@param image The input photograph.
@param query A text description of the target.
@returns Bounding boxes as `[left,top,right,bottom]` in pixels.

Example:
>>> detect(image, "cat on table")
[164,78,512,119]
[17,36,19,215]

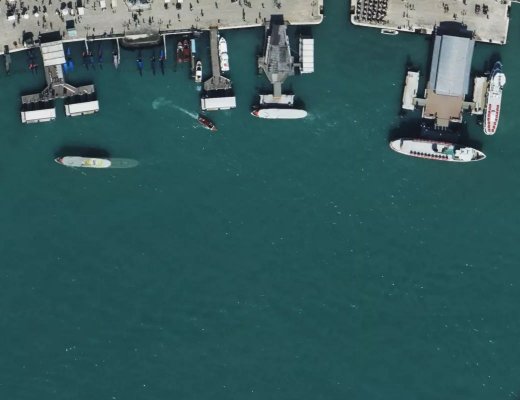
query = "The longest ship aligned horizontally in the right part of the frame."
[388,138,485,162]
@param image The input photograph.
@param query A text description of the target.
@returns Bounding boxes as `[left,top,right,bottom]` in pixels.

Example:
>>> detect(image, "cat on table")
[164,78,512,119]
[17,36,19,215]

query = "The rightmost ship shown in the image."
[483,61,505,135]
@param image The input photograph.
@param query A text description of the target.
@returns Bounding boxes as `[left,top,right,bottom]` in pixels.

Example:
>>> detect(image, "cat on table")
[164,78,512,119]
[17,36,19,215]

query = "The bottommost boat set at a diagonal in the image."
[198,117,217,130]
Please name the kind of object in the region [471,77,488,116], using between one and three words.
pier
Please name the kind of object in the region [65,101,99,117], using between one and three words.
pier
